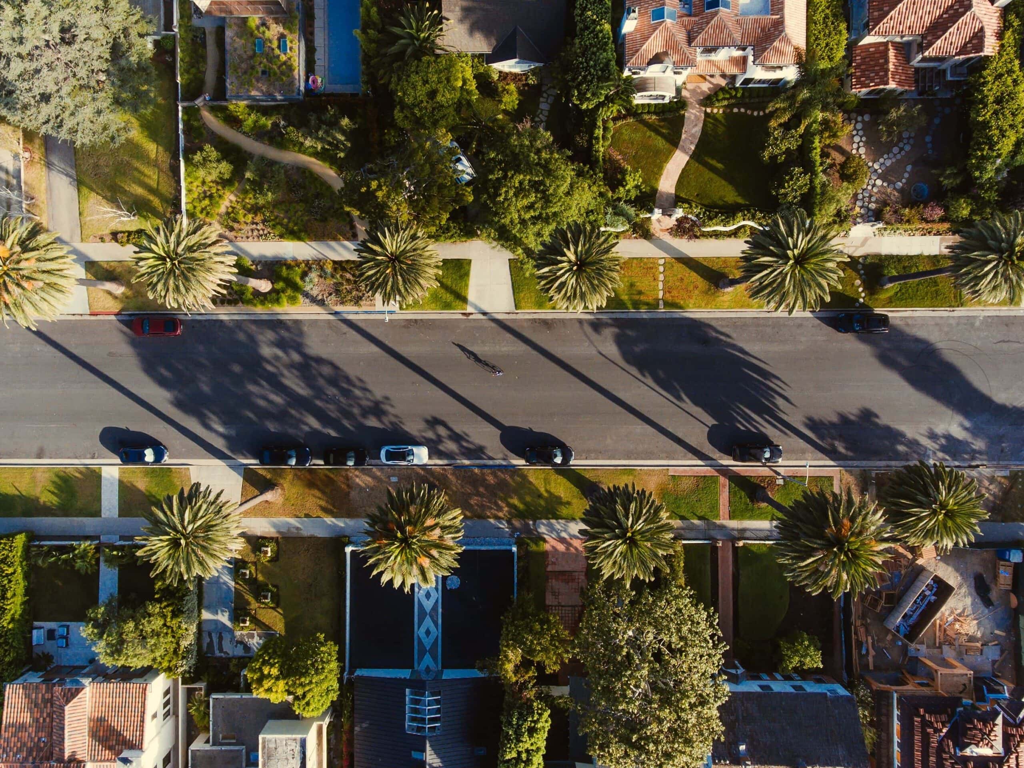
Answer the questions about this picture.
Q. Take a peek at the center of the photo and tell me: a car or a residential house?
car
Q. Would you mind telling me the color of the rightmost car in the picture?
black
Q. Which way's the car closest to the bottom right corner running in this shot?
from left to right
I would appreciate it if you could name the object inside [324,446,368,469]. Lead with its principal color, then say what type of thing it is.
black car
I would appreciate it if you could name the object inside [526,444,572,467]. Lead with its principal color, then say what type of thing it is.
black car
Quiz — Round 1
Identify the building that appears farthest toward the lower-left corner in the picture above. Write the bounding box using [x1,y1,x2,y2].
[0,655,172,768]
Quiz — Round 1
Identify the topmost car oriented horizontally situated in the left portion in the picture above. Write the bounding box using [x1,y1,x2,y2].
[133,315,183,338]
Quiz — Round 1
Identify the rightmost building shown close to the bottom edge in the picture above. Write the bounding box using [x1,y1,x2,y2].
[859,656,1024,768]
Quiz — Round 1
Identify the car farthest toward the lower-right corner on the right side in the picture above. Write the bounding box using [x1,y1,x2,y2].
[731,442,780,466]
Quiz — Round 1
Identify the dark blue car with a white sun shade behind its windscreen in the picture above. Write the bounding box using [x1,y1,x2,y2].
[119,444,170,467]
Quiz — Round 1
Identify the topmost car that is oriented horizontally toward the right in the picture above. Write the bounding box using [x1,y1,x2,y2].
[838,311,889,334]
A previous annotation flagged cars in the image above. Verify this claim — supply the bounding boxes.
[381,444,428,467]
[838,311,889,334]
[119,444,170,467]
[260,445,311,469]
[731,442,780,466]
[526,444,572,467]
[324,446,368,469]
[133,315,183,338]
